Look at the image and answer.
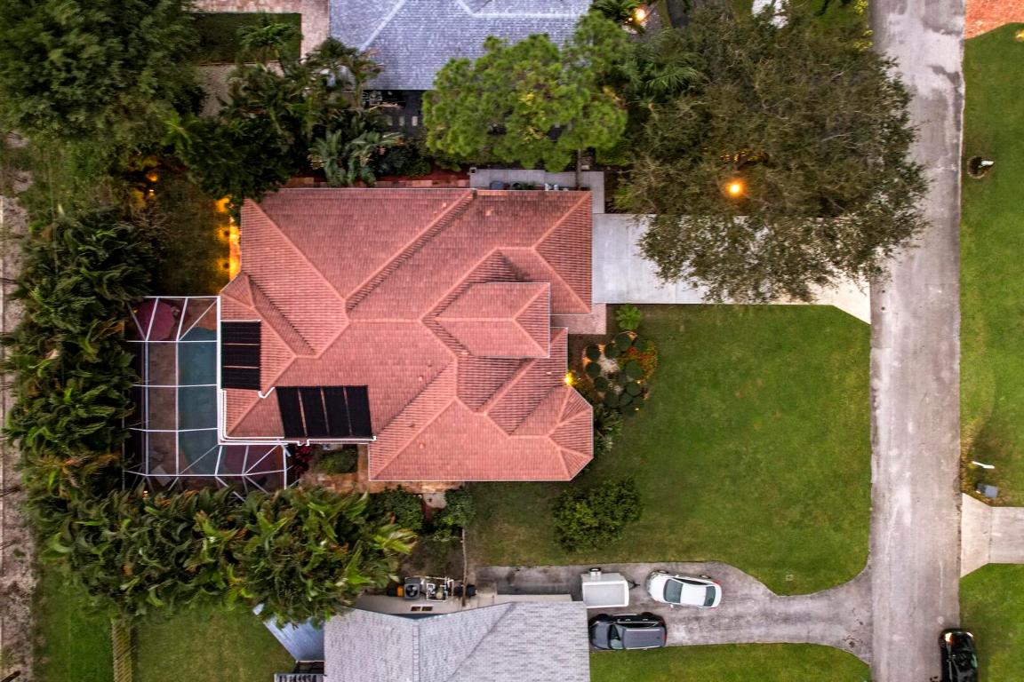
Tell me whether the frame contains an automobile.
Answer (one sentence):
Yes, there's an automobile down there.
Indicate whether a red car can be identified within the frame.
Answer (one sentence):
No, this view has no red car in it.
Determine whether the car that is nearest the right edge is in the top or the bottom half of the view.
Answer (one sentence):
Seen from above, the car that is nearest the right edge lies in the bottom half of the view.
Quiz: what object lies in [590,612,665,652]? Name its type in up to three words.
car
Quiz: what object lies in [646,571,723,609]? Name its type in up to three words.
car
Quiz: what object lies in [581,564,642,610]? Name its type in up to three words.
trailer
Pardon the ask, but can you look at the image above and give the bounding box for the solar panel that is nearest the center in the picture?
[276,385,371,439]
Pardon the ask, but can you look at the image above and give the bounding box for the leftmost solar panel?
[221,324,260,388]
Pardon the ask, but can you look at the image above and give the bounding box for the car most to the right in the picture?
[939,629,980,682]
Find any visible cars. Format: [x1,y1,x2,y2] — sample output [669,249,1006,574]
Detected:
[646,571,723,609]
[590,612,665,652]
[939,629,980,682]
